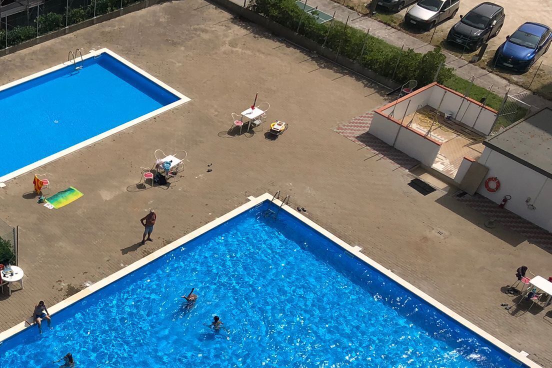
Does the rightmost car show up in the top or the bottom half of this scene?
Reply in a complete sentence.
The rightmost car is in the top half of the image.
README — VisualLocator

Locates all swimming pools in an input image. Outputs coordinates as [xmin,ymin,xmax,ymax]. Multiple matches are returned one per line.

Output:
[0,193,543,368]
[0,48,191,188]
